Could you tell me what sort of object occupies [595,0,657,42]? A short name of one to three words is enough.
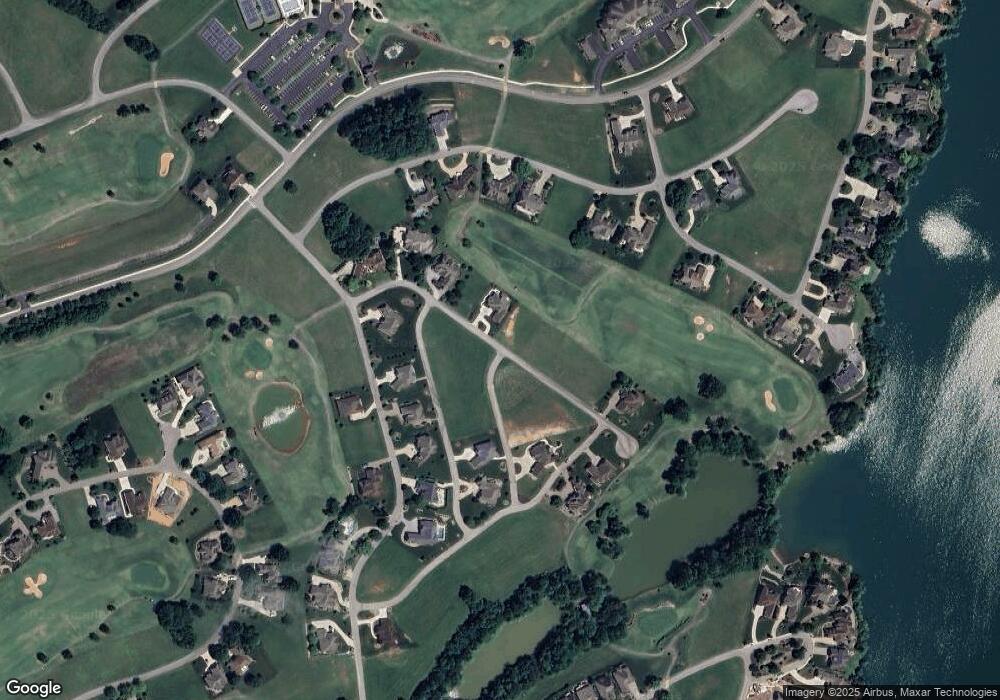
building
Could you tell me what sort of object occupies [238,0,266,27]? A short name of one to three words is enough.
tennis court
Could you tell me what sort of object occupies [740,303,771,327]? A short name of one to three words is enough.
house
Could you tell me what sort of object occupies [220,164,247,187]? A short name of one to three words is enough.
house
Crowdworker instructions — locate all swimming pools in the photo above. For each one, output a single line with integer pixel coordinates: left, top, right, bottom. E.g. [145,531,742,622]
[342,520,352,533]
[438,526,444,539]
